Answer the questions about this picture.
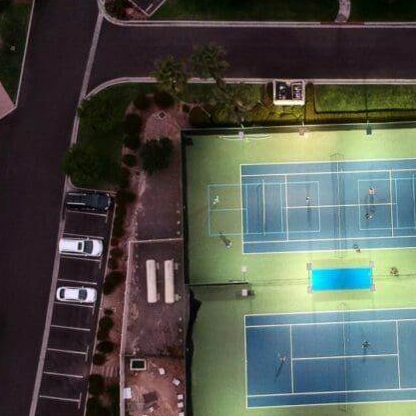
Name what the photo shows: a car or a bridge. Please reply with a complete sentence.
The image shows a car.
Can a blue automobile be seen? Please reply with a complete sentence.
No, there appears to be no blue automobile in this shot.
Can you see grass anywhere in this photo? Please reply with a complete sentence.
Yes, some grass is visible.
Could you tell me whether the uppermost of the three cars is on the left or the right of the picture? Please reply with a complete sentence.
The uppermost of the three cars sits on the left side.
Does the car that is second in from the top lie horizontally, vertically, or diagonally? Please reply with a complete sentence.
The car that is second in from the top is oriented horizontally.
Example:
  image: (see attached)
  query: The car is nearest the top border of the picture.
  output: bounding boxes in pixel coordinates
[66,192,113,213]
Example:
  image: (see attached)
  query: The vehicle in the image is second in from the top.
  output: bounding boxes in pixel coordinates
[58,236,104,257]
